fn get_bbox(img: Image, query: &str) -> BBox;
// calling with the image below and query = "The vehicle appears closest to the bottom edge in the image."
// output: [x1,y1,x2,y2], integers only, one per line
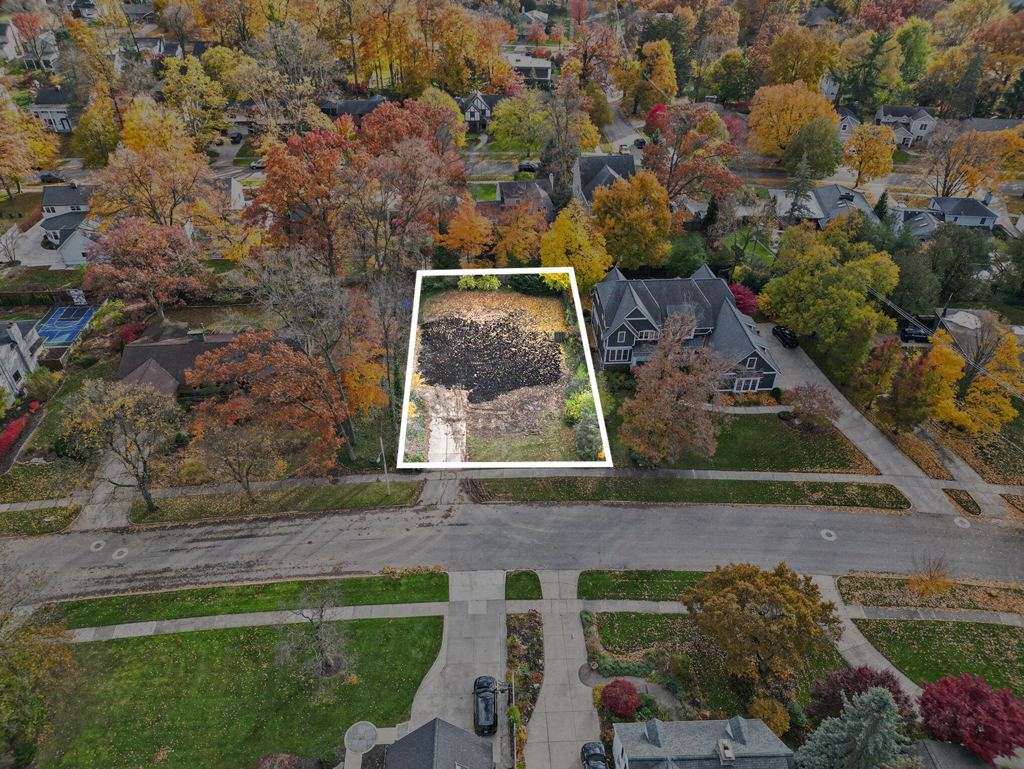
[582,733,612,769]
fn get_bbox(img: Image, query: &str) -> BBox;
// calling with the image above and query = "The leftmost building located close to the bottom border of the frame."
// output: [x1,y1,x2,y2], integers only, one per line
[373,711,498,769]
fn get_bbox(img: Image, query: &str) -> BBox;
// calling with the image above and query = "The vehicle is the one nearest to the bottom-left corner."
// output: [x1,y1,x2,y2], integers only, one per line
[473,677,499,737]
